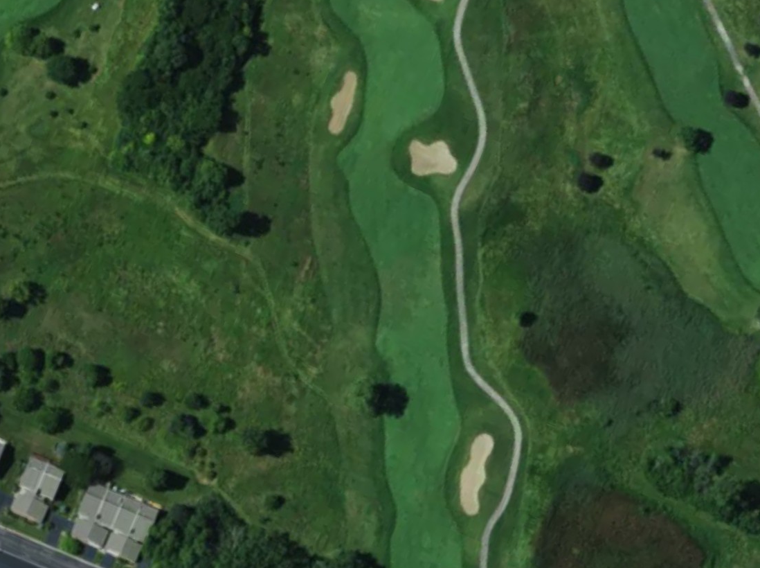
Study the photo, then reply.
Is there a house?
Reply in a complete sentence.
Yes, there is a house in the image.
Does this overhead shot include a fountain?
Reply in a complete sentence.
No, the scene contains no fountain.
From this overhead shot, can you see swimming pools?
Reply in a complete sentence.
No, there's no swimming pool here.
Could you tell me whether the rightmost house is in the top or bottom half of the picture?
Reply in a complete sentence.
You can find the rightmost house in the bottom half.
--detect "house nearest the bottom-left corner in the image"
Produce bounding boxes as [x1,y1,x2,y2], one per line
[9,455,66,524]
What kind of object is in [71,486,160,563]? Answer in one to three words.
house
